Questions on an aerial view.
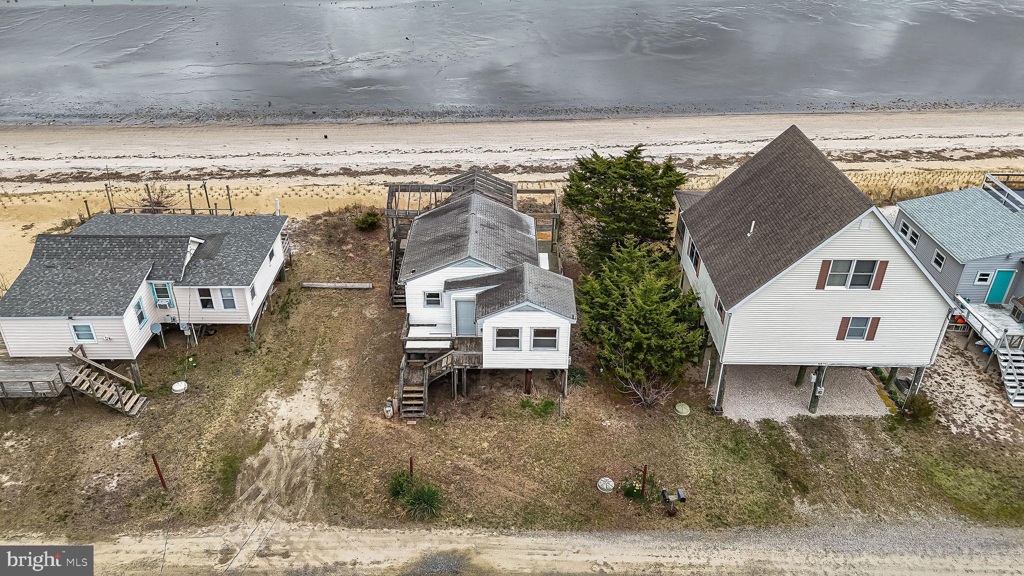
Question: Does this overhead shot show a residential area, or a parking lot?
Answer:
residential area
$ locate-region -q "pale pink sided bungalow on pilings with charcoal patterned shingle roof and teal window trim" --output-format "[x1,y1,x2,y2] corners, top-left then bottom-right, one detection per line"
[0,216,306,383]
